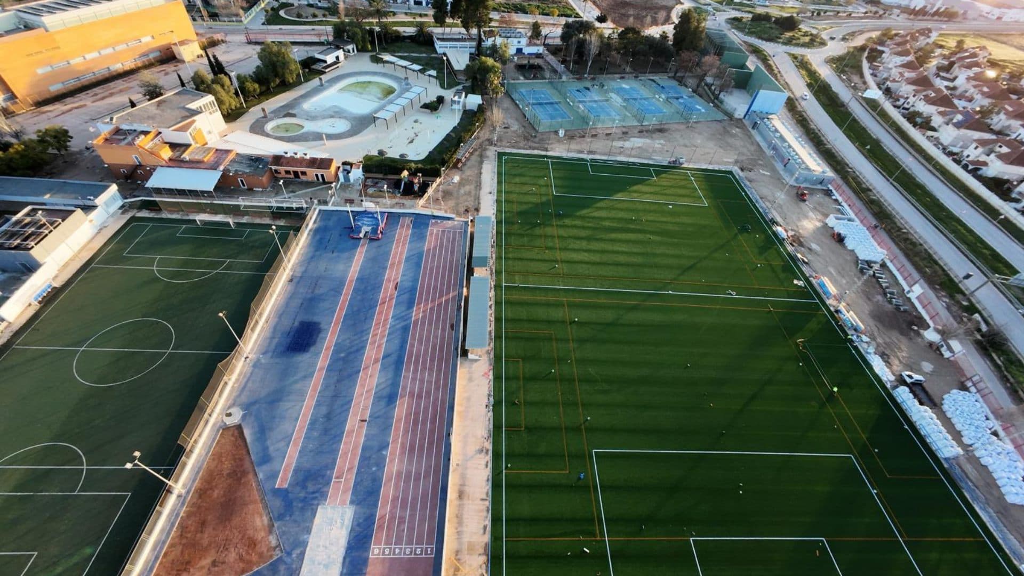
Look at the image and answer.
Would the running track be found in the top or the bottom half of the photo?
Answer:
bottom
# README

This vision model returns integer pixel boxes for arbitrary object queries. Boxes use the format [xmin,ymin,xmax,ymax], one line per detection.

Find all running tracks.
[150,213,468,576]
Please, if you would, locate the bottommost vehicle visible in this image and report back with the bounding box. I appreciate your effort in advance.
[909,372,947,401]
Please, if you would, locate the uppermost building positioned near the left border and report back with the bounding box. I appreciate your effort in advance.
[0,0,211,114]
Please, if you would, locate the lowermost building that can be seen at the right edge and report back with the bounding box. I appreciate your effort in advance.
[964,170,1024,216]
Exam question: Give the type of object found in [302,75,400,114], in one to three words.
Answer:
swimming pool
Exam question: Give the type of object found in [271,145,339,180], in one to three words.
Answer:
house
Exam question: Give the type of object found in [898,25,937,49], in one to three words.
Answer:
house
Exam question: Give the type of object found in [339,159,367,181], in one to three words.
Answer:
building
